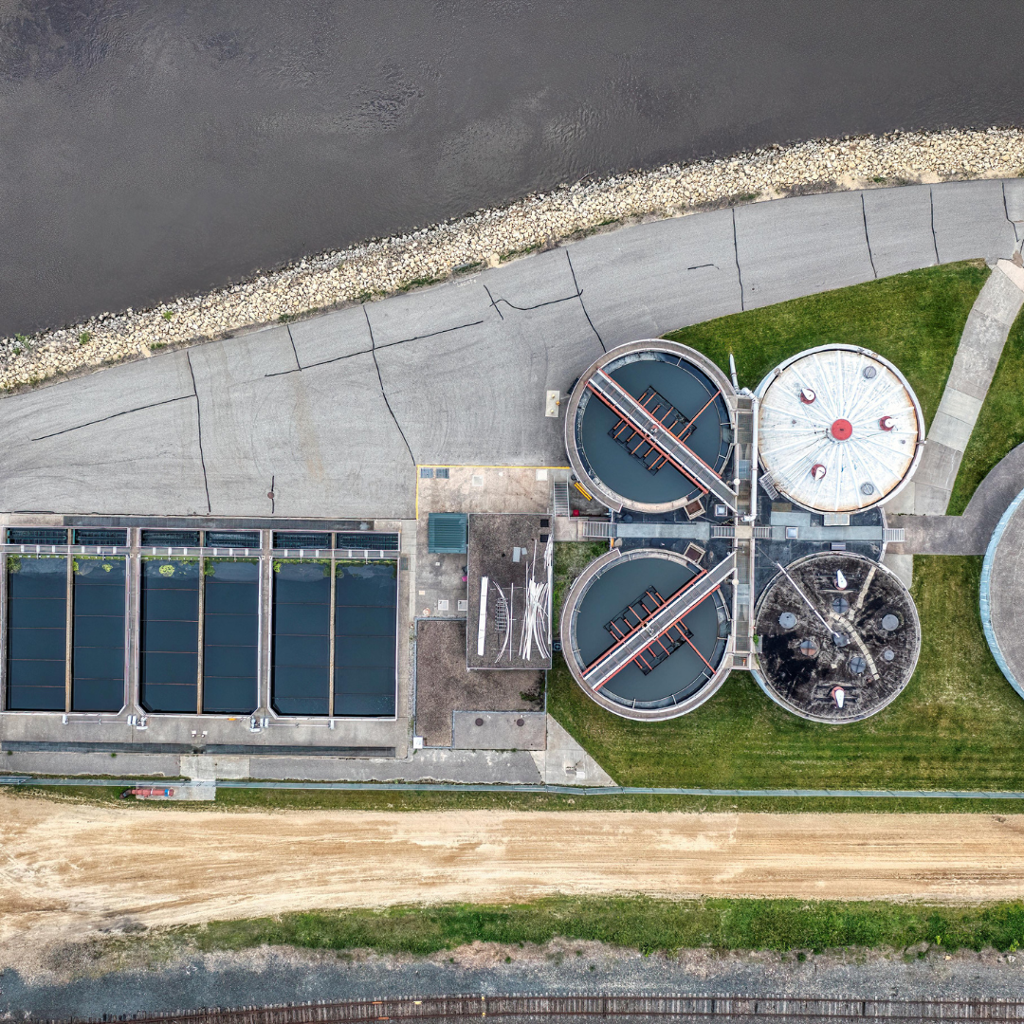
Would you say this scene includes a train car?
No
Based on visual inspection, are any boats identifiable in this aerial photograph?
No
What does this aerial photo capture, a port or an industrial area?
industrial area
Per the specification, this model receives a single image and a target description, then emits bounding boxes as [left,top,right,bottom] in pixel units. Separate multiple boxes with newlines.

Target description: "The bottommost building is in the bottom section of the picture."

[414,619,548,751]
